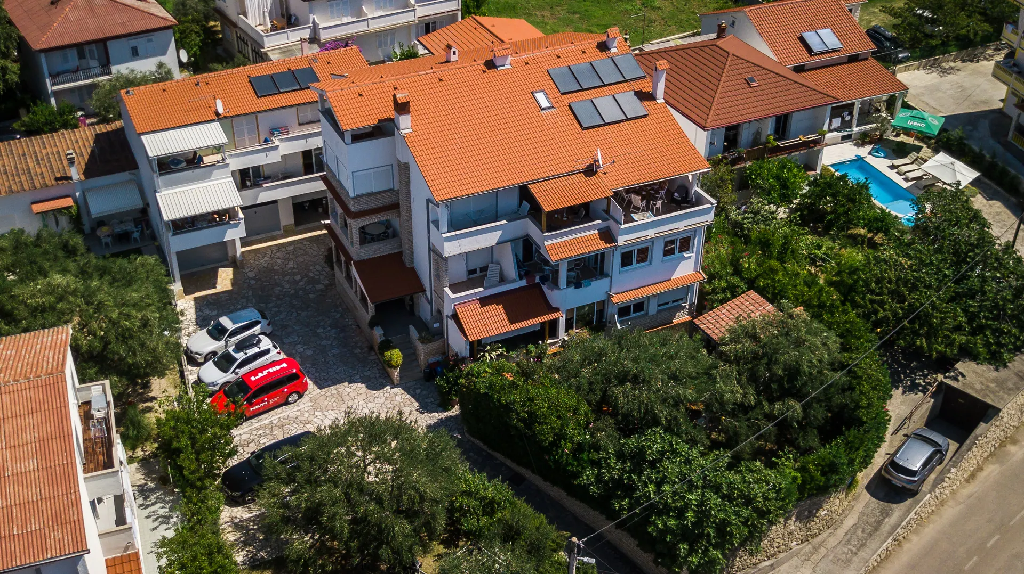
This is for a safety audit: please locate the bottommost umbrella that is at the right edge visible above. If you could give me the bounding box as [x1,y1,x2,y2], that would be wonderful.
[916,154,987,199]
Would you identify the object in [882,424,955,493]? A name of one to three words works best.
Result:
car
